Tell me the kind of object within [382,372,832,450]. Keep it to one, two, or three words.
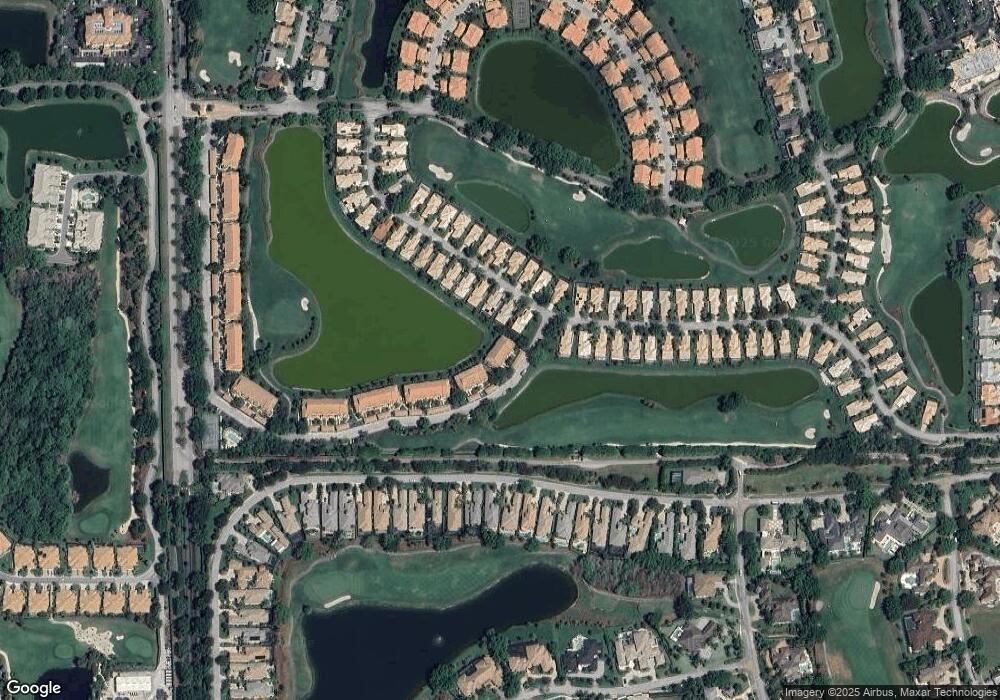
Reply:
golf course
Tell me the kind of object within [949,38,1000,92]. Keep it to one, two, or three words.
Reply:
building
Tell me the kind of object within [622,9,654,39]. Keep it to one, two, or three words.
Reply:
house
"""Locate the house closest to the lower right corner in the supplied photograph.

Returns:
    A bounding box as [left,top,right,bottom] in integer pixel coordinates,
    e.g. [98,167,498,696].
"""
[926,659,962,694]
